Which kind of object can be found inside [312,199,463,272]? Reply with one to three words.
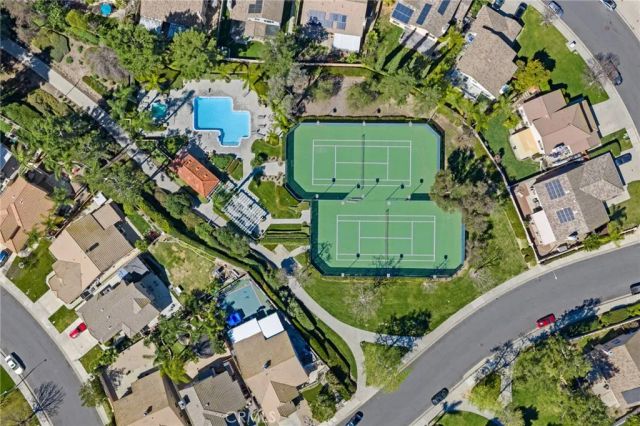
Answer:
tennis court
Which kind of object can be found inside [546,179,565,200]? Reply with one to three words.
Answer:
solar panel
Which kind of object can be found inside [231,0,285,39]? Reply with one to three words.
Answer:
house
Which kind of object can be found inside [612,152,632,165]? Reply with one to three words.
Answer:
vehicle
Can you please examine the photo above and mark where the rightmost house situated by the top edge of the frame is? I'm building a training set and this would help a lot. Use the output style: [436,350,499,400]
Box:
[454,6,522,101]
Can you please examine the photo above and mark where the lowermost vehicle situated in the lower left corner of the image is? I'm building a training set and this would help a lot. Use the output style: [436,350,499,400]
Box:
[5,354,23,373]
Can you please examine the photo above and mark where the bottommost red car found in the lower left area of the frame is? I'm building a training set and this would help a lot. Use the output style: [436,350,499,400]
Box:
[69,321,87,339]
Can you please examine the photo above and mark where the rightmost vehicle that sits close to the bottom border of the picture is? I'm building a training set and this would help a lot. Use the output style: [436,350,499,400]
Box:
[431,387,449,405]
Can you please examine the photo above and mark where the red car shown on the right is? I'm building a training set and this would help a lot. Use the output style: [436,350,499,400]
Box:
[534,314,555,329]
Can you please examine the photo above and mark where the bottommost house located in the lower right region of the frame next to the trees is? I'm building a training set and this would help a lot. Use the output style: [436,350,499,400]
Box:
[586,323,640,409]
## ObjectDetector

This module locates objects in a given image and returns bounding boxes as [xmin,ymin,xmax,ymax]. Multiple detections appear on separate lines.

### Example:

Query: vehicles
[547,0,564,18]
[431,387,449,405]
[612,152,632,165]
[626,282,640,294]
[512,1,529,21]
[0,247,11,266]
[534,314,555,329]
[491,0,505,12]
[69,321,87,339]
[5,354,23,373]
[599,0,618,14]
[346,409,363,426]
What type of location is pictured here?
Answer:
residential area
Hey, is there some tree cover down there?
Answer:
Yes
